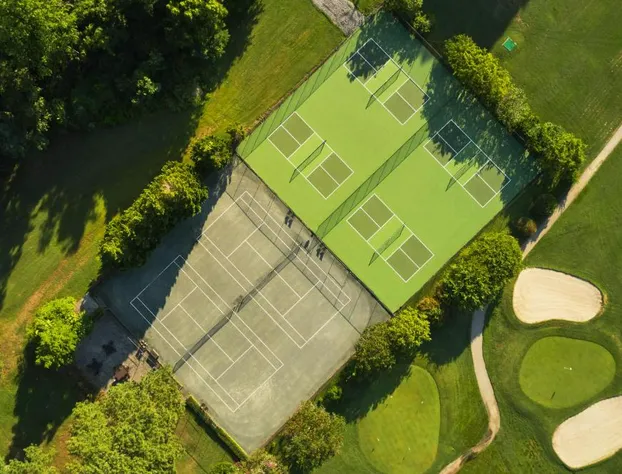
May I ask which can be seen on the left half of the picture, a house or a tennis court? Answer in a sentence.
What appears on the left half of the picture is a tennis court.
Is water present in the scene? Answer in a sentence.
No, the picture contains no water.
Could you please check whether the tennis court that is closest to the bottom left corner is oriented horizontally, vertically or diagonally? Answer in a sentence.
Seen from above, the tennis court that is closest to the bottom left corner lies diagonally.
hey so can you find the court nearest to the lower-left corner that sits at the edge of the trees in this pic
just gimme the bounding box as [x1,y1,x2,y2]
[126,252,288,416]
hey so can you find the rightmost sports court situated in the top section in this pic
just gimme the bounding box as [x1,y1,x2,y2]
[424,120,510,207]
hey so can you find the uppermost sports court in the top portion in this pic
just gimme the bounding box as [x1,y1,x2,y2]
[344,37,430,125]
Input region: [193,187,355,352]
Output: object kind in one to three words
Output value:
tennis court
